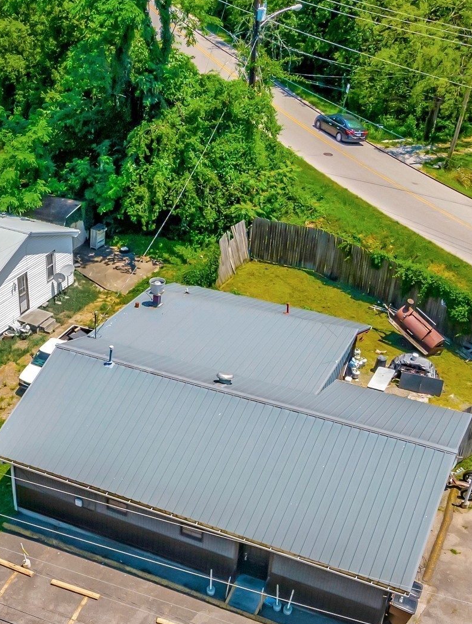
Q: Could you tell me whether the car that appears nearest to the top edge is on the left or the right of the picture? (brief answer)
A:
right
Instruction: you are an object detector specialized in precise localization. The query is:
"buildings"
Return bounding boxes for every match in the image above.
[0,283,472,624]
[0,211,87,340]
